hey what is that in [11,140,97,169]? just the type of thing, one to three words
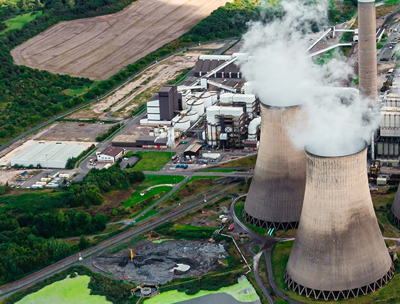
building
